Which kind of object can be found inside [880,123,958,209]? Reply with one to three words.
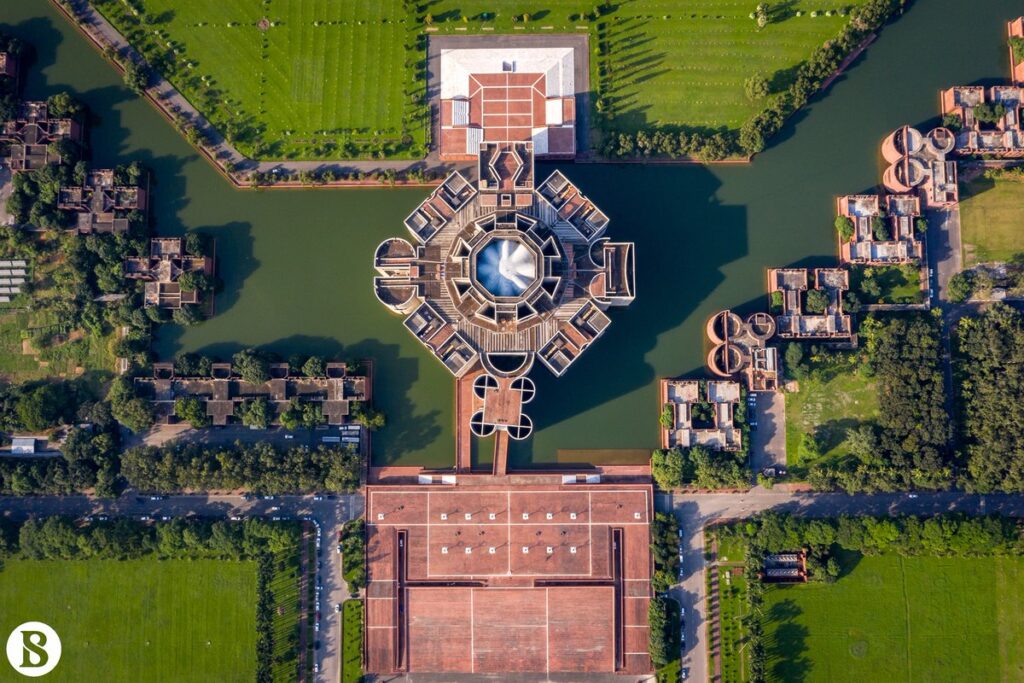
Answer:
building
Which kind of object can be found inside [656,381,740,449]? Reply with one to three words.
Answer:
house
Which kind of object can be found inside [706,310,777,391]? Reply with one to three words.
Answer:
building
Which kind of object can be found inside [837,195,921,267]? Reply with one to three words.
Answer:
house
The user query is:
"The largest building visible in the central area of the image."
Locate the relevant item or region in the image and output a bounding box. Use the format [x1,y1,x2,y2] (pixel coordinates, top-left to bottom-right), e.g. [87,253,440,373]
[375,136,634,441]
